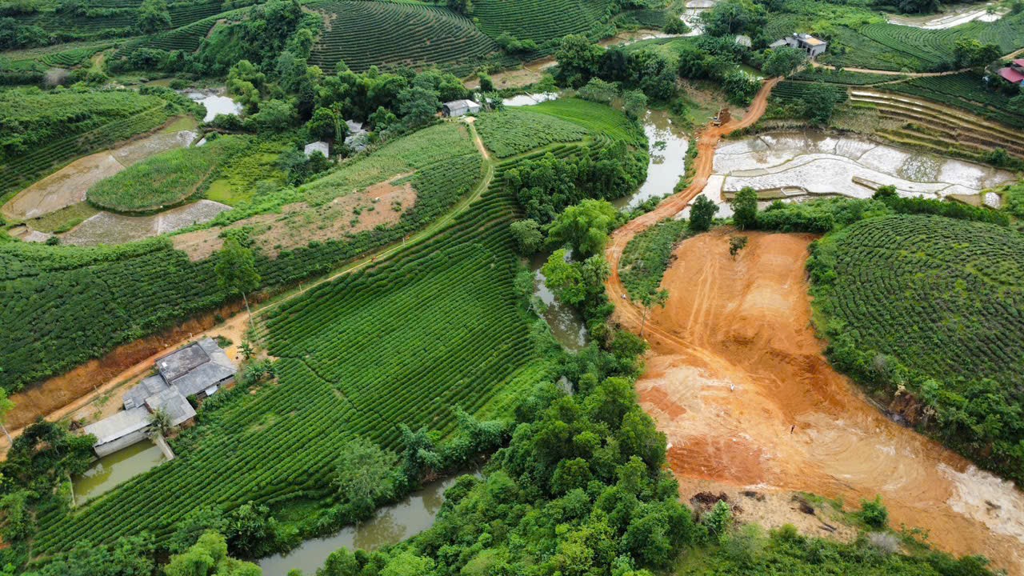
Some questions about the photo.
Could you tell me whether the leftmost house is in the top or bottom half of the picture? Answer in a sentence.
It is in the bottom half that the leftmost house appears.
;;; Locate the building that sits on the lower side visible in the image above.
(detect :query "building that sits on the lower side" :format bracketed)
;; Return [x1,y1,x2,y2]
[85,338,238,460]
